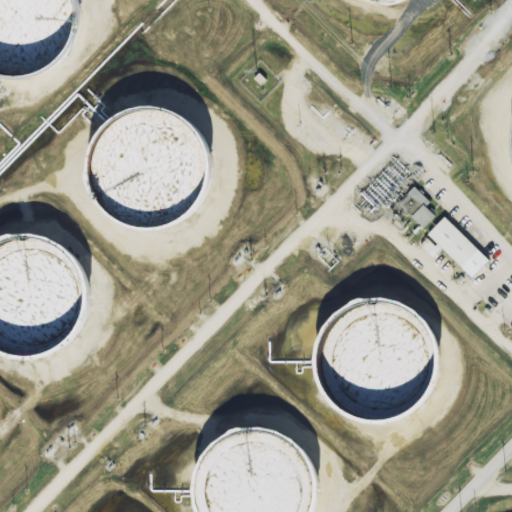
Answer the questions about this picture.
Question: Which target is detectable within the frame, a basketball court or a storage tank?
storage tank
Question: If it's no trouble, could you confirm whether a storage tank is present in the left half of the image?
Yes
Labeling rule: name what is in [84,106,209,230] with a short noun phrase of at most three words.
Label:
storage tank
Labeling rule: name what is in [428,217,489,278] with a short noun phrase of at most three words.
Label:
building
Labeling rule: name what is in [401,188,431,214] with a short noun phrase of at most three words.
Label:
building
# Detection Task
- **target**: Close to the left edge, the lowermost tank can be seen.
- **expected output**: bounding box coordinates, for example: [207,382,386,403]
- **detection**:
[0,234,86,358]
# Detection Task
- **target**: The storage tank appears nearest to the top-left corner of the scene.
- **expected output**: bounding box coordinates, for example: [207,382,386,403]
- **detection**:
[0,0,77,80]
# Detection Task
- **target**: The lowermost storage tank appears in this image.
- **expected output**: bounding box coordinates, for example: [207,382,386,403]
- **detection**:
[191,426,316,512]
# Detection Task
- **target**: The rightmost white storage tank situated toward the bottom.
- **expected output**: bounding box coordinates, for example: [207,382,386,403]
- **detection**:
[313,298,439,423]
